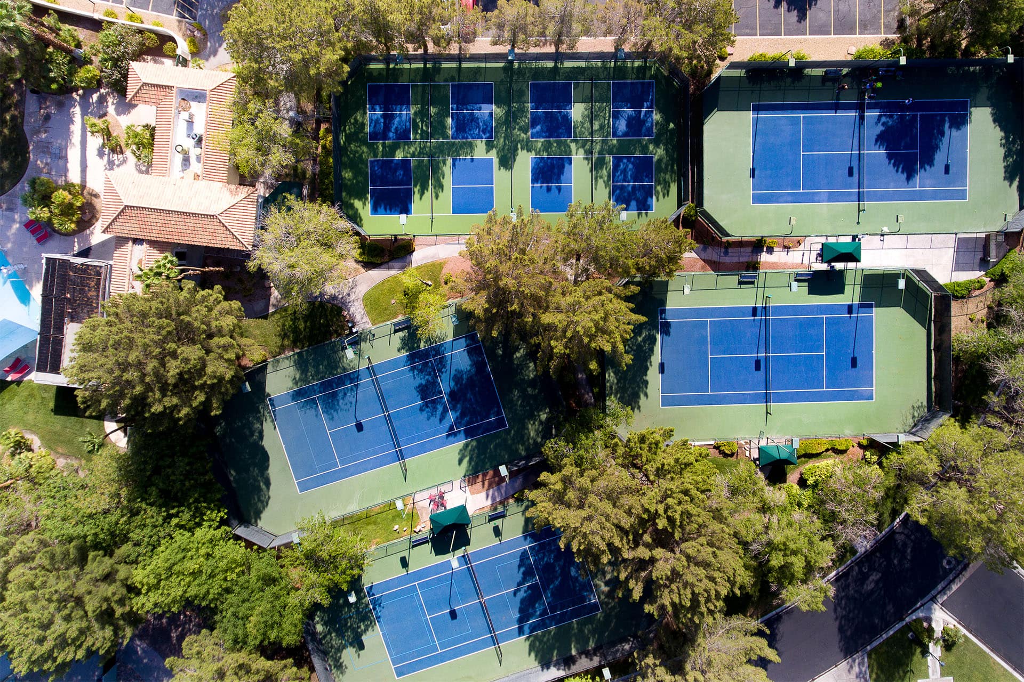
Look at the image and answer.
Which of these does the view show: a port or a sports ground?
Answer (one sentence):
This looks like a sports ground.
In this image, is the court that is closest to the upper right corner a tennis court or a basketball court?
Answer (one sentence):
The court that is closest to the upper right corner is a tennis court.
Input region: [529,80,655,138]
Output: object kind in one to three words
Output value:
sports court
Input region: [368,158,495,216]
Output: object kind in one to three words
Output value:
sports court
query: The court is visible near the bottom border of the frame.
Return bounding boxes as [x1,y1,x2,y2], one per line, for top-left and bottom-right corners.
[309,483,657,682]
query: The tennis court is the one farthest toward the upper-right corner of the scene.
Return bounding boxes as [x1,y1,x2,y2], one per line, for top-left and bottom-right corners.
[695,68,1019,237]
